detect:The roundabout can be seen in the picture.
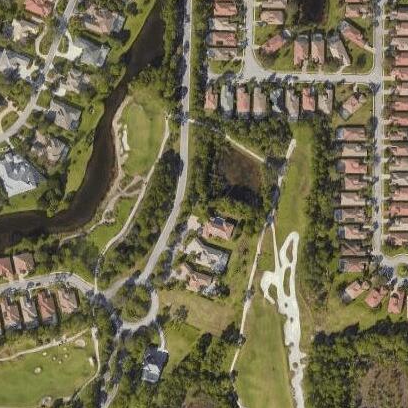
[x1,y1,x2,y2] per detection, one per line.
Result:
[104,277,159,329]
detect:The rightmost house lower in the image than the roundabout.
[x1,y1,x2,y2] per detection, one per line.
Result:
[143,340,168,383]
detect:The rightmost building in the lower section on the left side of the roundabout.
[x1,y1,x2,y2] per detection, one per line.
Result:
[60,287,80,313]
